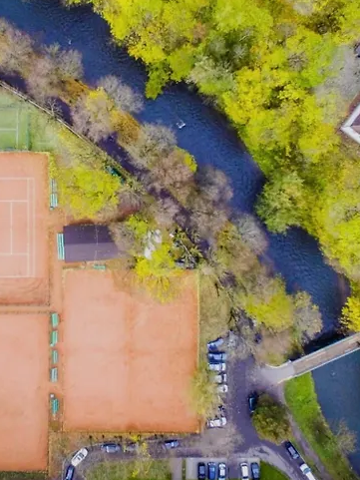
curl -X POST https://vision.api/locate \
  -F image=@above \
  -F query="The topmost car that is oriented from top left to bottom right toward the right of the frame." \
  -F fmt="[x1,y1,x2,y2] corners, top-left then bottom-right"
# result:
[286,442,302,462]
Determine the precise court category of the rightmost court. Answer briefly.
tennis court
